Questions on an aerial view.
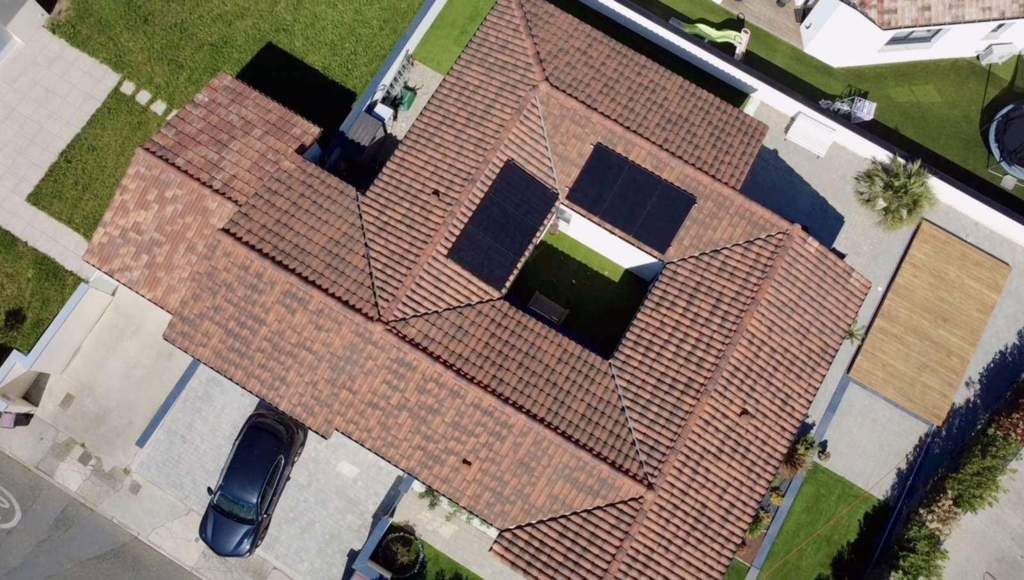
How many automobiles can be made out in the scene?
1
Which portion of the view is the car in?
bottom left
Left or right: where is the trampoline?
right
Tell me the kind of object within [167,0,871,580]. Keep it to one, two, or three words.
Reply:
house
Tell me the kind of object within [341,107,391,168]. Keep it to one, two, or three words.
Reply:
shed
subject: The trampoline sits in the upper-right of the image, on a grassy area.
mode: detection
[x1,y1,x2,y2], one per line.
[977,97,1024,177]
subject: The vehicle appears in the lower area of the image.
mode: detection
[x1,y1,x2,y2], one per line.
[202,401,311,560]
